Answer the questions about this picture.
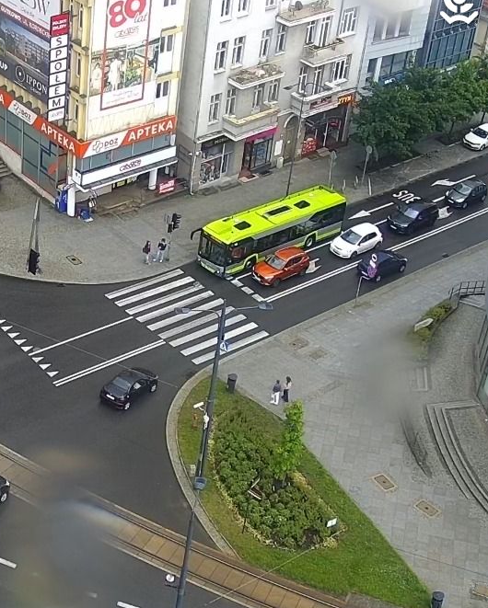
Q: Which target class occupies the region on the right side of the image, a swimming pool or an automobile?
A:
automobile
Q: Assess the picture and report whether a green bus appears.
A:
Yes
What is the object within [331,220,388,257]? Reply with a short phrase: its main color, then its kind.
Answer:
white car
